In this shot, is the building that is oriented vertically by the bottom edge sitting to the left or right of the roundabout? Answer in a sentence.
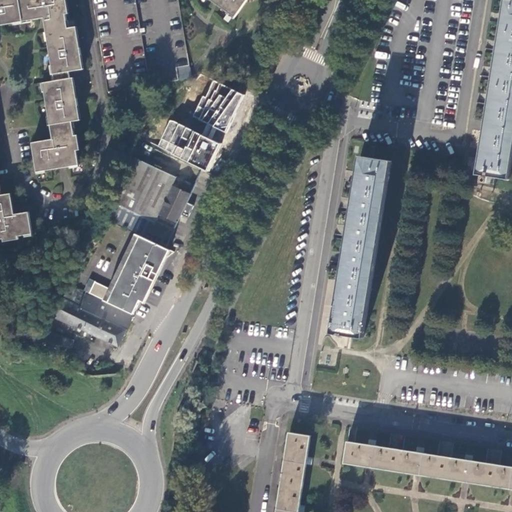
The roundabout has the building that is oriented vertically by the bottom edge on its right side.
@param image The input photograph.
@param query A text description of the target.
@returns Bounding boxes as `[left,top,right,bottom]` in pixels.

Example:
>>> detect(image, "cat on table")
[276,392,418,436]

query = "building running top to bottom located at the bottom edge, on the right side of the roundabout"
[276,432,314,512]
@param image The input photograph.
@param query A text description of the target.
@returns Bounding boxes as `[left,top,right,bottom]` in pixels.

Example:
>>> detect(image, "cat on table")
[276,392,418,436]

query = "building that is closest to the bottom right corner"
[342,439,512,488]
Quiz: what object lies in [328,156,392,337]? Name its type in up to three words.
building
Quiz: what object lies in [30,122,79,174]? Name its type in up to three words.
building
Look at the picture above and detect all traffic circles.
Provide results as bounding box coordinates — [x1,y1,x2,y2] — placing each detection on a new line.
[31,418,164,512]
